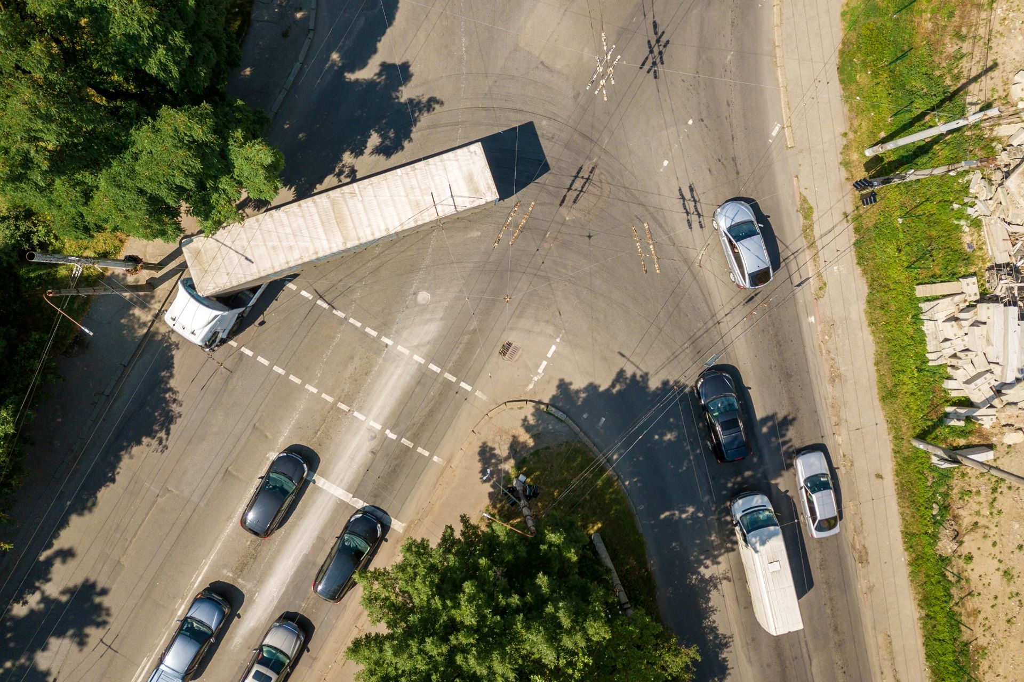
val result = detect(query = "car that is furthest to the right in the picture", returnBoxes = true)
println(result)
[791,450,840,537]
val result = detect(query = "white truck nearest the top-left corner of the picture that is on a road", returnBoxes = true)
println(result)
[156,142,499,366]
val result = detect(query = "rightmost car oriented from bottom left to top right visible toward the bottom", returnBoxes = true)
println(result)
[313,509,385,604]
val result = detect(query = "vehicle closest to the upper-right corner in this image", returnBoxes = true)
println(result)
[716,198,772,289]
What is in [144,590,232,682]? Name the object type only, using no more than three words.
truck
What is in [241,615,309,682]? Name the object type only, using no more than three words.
car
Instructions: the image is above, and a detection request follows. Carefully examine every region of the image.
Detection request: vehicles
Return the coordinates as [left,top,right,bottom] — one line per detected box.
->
[144,590,232,682]
[716,198,772,289]
[731,492,804,634]
[697,368,753,461]
[791,450,840,537]
[241,615,309,682]
[242,450,311,538]
[313,509,385,604]
[156,142,499,366]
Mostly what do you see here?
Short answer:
paved ground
